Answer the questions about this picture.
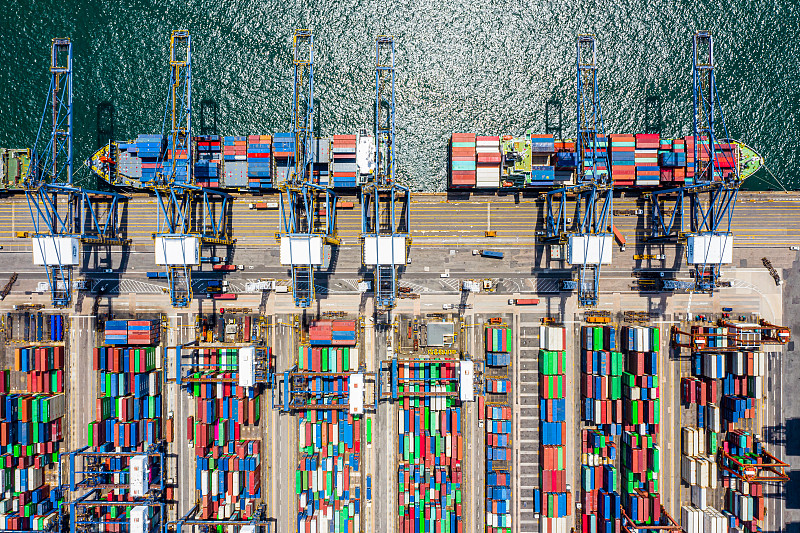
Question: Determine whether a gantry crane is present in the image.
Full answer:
Yes, there's a gantry crane here.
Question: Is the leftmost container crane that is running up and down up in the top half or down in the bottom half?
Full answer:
The top half of the photo is where the leftmost container crane that is running up and down is.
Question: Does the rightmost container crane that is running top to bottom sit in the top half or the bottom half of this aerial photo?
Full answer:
The top half of the photo is where the rightmost container crane that is running top to bottom is.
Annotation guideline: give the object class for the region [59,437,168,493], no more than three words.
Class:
container crane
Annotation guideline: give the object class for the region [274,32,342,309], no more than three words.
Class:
container crane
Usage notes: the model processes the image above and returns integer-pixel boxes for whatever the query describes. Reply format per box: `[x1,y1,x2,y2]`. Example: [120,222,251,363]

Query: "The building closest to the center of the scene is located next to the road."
[427,323,455,346]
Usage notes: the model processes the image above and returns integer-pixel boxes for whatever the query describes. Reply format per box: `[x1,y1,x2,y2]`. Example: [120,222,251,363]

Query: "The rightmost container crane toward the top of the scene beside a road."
[634,32,737,295]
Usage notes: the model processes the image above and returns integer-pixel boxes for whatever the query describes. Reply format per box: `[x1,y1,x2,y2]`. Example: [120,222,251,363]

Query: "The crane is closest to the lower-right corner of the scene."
[720,449,791,483]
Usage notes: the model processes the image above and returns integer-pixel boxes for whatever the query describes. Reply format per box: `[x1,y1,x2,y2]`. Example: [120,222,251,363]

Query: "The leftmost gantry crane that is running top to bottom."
[24,39,135,309]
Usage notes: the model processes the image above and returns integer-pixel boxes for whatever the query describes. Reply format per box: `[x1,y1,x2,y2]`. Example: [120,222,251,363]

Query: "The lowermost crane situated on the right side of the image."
[620,507,685,533]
